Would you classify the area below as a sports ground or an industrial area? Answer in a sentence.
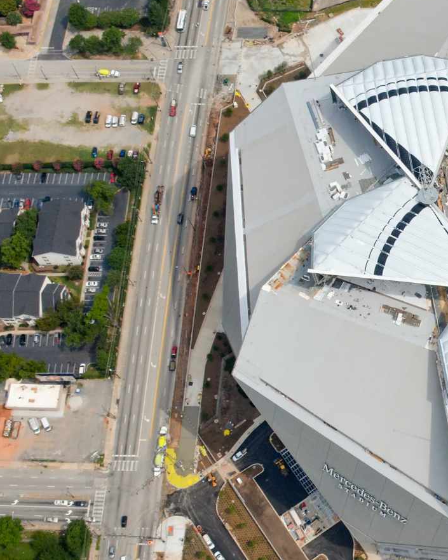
This image shows a sports ground.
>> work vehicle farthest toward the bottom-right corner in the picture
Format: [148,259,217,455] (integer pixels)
[274,452,287,471]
